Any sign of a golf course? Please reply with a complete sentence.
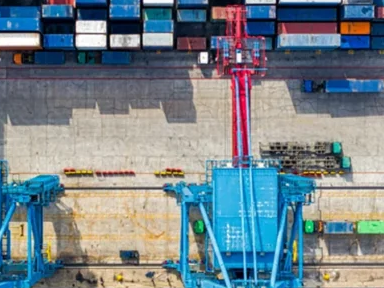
No, I can see no golf course in this picture.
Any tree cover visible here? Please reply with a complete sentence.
No, there's no tree cover in this view.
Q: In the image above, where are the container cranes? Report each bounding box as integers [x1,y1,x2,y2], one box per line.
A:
[163,7,313,288]
[0,158,67,288]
